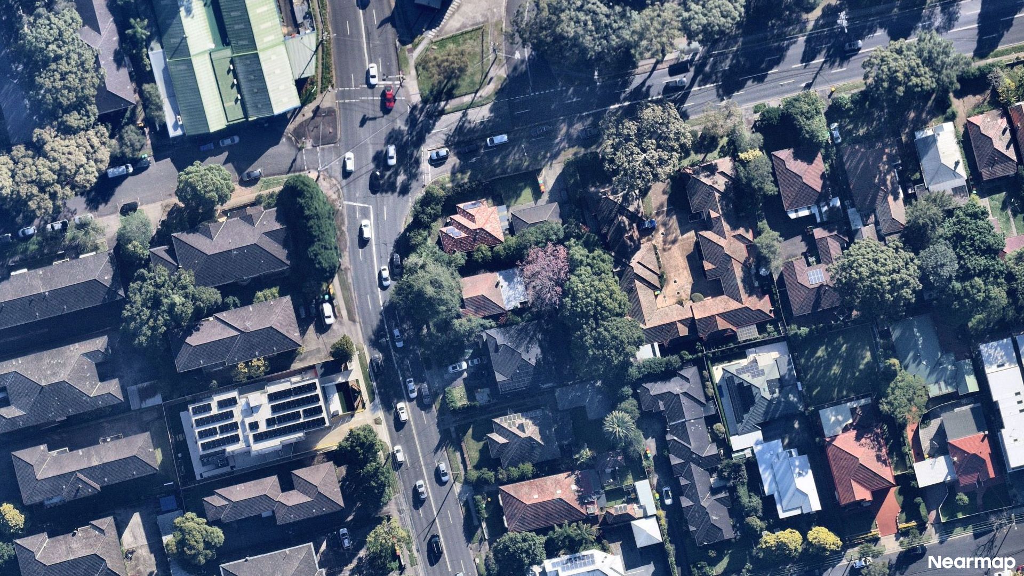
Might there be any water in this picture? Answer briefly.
No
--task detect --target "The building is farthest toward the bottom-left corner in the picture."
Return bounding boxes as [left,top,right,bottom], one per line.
[6,516,130,576]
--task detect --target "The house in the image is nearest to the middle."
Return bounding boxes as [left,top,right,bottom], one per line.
[458,267,529,318]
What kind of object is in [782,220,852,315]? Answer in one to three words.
house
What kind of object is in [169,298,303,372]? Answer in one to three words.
building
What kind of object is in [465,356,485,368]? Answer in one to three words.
vehicle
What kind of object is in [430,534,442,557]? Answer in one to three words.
vehicle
